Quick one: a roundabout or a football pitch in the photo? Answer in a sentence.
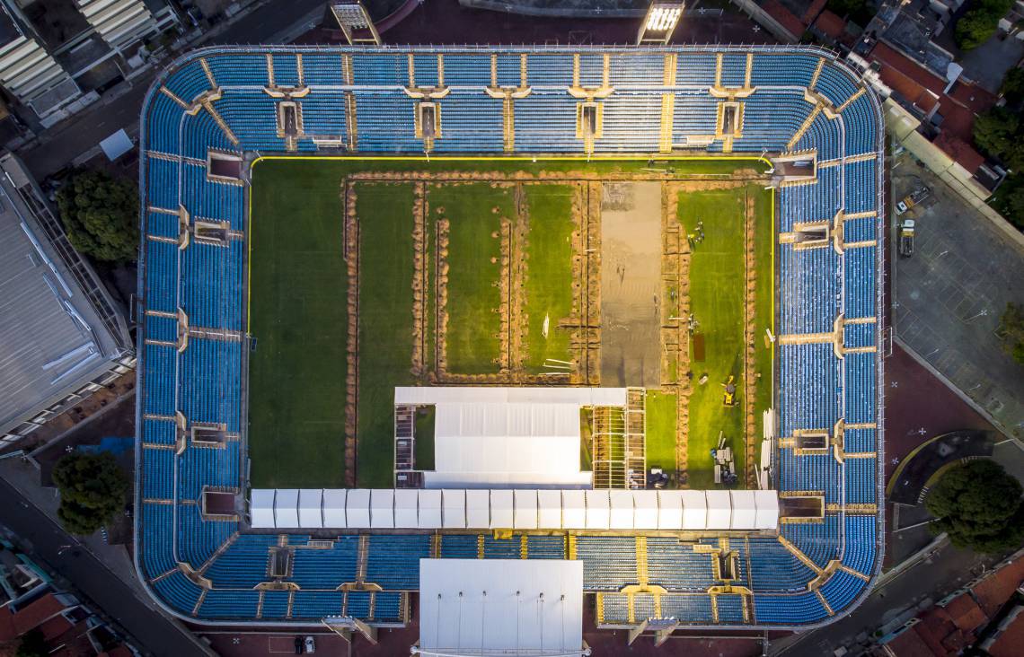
Of the two, only a football pitch appears.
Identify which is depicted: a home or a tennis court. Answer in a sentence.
It is a home that can be seen here.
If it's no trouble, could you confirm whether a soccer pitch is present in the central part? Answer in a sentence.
Yes, I can see a soccer pitch in the central part.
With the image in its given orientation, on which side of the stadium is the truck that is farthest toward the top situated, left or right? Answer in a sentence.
You can see the truck that is farthest toward the top positioned to the right of the stadium.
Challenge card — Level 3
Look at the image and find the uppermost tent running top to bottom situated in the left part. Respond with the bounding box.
[395,404,418,472]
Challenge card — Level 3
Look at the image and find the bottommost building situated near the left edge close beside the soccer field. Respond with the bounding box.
[0,137,139,448]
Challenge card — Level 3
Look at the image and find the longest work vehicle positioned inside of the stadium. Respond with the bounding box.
[723,375,739,404]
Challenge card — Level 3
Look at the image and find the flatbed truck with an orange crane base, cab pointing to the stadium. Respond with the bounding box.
[894,182,934,216]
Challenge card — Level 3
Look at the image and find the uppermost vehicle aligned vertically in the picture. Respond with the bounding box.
[902,218,919,257]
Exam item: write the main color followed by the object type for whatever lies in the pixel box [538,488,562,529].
white tent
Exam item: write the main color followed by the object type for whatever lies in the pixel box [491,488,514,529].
white tent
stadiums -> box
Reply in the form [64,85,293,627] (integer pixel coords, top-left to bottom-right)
[133,42,890,657]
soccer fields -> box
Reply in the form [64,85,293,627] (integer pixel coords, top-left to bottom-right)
[249,159,774,532]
